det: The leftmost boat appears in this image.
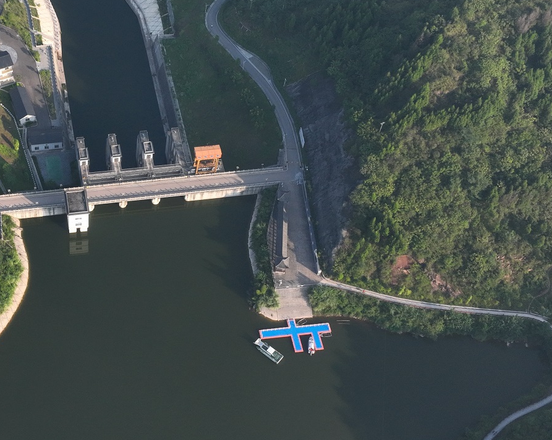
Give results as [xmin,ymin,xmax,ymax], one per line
[250,333,284,365]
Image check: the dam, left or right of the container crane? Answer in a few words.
to its left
